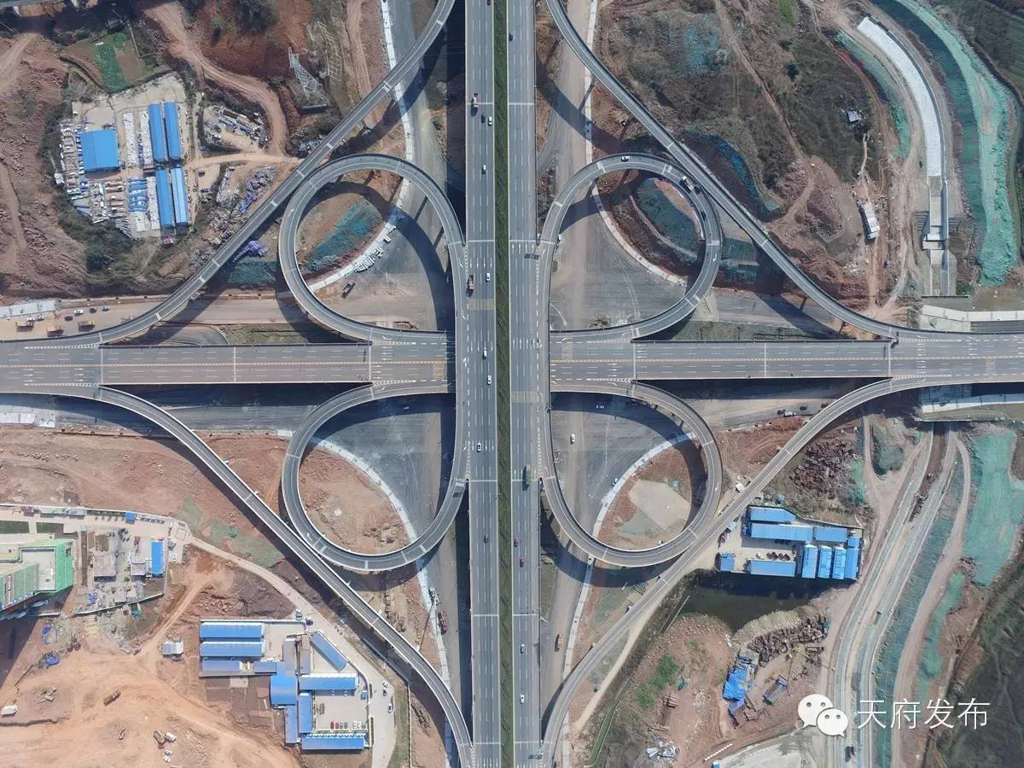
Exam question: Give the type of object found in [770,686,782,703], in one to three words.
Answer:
vehicle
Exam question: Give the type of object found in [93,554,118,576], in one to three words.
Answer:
house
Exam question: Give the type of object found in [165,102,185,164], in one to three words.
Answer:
shed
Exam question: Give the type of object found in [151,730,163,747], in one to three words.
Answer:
vehicle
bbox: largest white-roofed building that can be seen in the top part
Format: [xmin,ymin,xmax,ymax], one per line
[860,202,878,238]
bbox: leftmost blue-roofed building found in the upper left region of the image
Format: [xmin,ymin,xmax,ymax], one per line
[82,129,125,175]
